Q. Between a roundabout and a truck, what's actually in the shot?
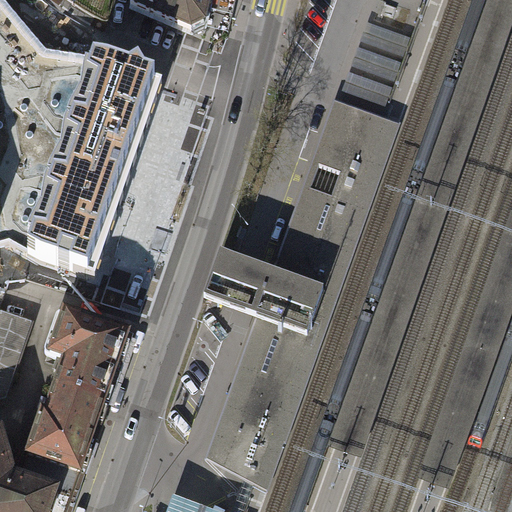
truck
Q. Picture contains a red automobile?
Yes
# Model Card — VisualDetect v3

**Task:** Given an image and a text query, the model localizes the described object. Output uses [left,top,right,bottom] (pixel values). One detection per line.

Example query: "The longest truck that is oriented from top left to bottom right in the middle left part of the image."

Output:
[58,270,103,314]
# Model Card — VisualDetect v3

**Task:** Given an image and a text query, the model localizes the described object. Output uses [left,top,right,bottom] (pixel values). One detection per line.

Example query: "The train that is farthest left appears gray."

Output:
[287,0,488,512]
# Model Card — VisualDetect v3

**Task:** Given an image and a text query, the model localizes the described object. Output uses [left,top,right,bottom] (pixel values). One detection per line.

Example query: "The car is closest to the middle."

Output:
[270,218,284,240]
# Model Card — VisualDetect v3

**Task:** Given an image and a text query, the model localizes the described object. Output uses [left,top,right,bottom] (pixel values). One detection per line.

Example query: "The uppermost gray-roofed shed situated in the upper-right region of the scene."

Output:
[360,24,410,58]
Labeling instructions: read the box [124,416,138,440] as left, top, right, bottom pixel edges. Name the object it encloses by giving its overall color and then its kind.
white car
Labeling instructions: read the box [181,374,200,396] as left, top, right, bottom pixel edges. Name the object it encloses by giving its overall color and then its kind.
white car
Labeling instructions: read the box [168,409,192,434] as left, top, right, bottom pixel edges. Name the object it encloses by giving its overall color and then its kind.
white vehicle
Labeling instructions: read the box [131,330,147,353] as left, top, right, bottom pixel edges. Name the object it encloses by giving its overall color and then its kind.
white vehicle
